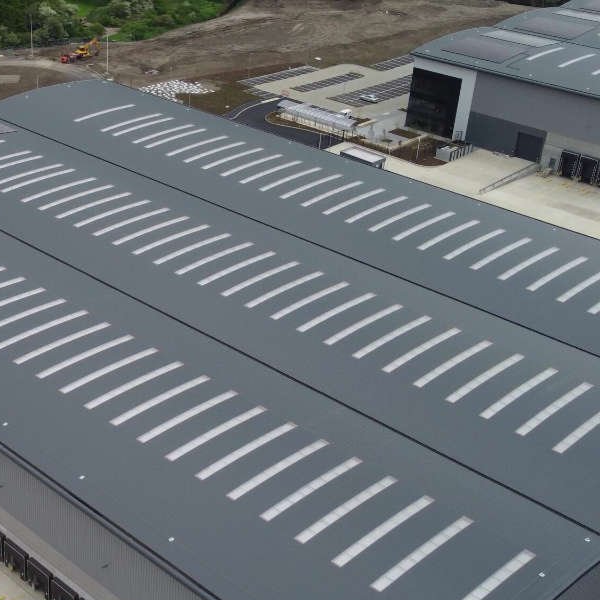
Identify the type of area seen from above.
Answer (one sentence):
This looks like an industrial area.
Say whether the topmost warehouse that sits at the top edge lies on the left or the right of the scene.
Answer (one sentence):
The topmost warehouse that sits at the top edge sits on the right side.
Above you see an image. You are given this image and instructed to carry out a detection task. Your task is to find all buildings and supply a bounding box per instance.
[403,0,600,187]
[0,77,600,600]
